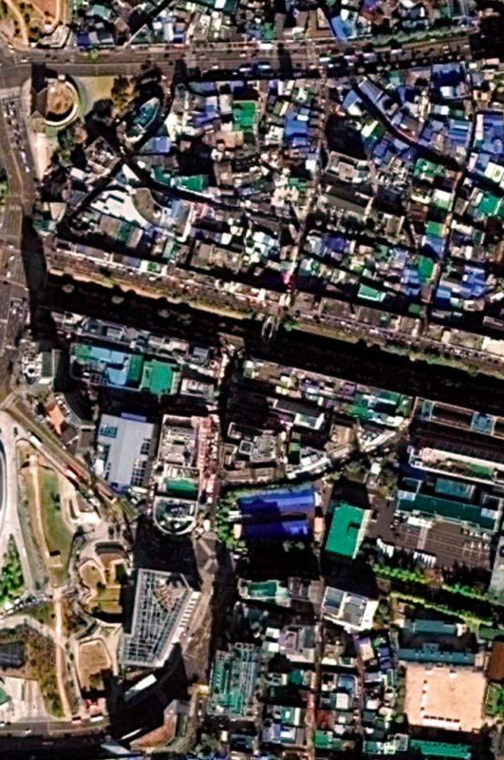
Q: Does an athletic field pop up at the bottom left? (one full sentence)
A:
No, I can find no athletic field at the bottom left.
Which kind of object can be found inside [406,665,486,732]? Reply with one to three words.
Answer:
sports field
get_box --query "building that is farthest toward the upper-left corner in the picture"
[42,25,75,48]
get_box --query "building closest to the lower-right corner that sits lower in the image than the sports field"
[410,740,474,758]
